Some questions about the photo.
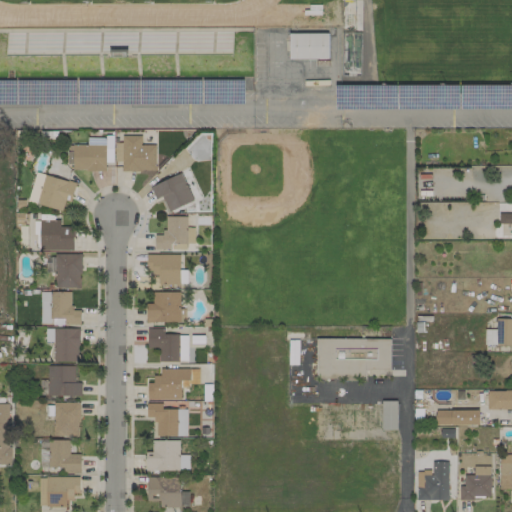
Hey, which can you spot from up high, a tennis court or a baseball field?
baseball field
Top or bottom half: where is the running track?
top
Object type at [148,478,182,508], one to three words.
house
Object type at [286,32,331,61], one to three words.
building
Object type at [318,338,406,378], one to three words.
building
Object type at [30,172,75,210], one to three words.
house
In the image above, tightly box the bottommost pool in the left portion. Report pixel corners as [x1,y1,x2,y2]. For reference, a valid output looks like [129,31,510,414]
[192,301,206,320]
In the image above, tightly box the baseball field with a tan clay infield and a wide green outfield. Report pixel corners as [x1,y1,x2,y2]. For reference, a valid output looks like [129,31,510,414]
[214,128,408,327]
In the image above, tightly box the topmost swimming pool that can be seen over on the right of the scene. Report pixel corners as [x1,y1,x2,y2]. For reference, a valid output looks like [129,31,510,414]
[434,388,454,403]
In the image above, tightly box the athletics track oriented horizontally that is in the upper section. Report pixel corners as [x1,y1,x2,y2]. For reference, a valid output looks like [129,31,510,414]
[0,0,344,28]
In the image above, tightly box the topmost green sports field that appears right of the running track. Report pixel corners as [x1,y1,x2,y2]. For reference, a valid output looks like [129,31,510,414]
[376,0,512,80]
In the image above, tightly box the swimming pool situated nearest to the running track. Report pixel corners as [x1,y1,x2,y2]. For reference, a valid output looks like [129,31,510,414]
[37,152,49,173]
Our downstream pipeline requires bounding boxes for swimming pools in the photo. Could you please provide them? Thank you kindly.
[434,388,454,403]
[37,152,49,173]
[194,266,206,285]
[192,301,206,320]
[21,256,32,278]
